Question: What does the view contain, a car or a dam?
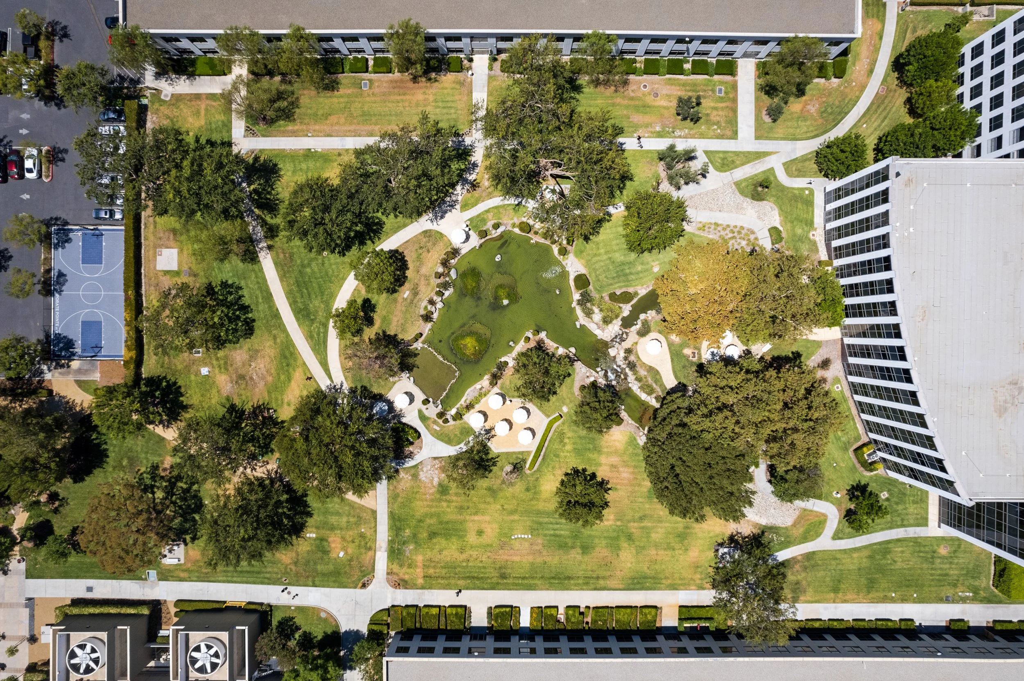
car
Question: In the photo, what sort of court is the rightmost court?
basketball court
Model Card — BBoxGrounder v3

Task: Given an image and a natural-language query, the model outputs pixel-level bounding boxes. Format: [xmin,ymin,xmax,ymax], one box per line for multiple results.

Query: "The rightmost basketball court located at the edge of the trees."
[52,226,126,360]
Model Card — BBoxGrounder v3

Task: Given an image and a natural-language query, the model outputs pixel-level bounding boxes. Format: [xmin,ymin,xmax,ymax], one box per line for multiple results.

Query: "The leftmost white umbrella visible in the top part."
[450,228,467,244]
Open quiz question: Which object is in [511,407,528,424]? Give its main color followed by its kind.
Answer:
white umbrella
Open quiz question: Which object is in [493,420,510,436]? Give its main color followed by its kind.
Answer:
white umbrella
